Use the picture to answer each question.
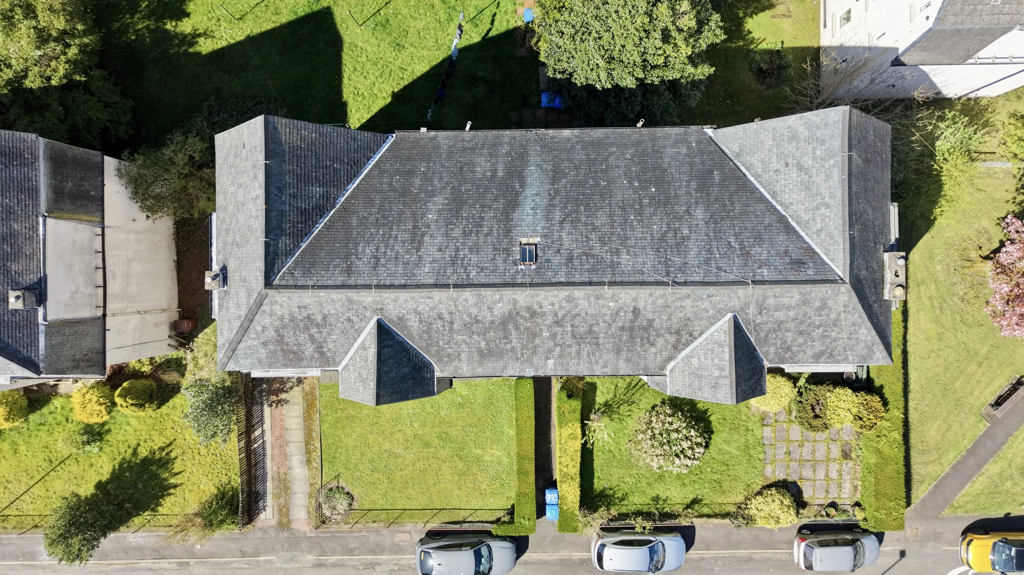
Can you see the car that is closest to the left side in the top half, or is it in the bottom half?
bottom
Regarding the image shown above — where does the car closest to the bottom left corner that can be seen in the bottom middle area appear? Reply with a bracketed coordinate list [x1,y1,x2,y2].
[416,532,517,575]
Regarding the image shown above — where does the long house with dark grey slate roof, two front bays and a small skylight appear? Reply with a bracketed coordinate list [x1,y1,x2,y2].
[205,106,905,405]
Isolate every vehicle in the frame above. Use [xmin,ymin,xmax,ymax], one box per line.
[955,528,1024,575]
[791,527,877,575]
[591,526,685,575]
[416,532,517,575]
